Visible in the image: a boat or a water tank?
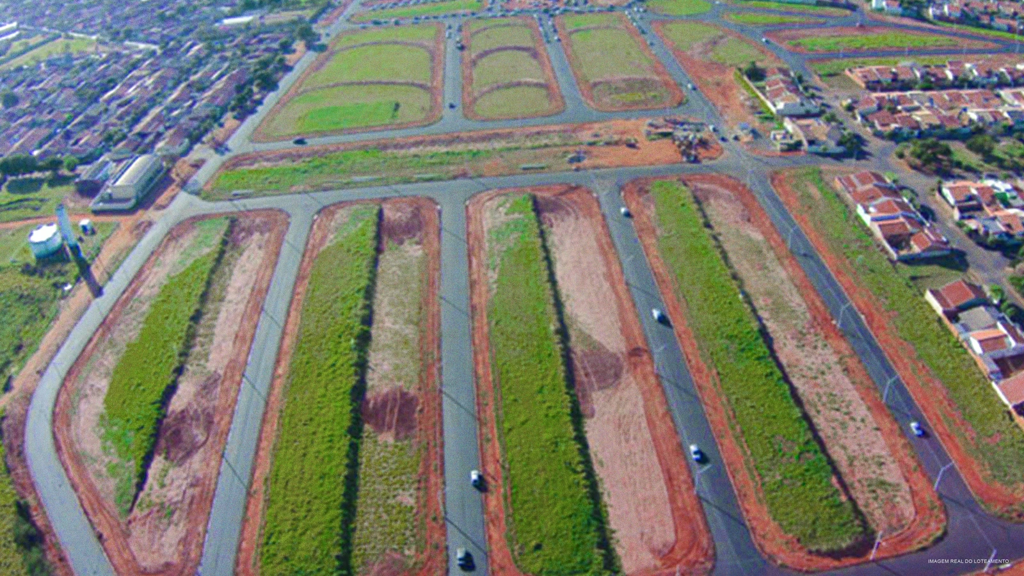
water tank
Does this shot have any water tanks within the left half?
Yes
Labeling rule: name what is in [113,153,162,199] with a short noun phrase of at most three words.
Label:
building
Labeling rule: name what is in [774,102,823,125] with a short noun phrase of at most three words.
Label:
house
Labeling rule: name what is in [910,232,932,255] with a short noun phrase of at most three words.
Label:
house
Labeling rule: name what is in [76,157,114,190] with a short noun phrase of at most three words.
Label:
shed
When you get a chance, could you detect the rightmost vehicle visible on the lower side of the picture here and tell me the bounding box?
[912,422,926,437]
